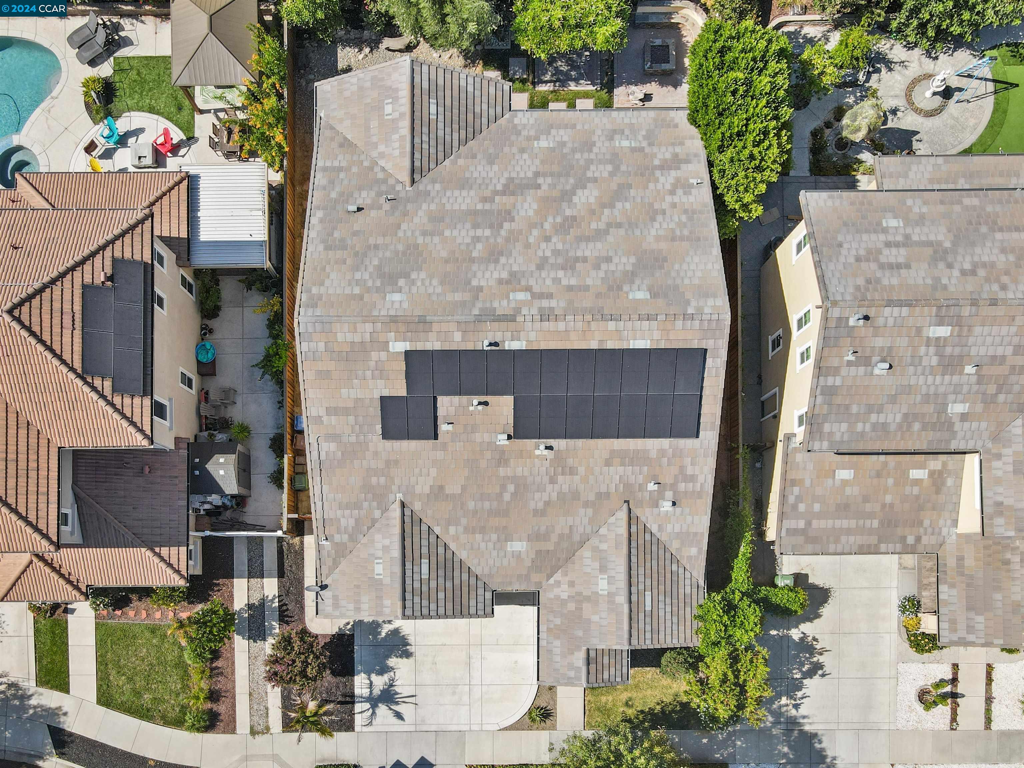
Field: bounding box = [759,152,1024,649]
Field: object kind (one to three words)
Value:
house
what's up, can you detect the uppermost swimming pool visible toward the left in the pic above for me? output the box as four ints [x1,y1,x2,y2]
[0,28,68,138]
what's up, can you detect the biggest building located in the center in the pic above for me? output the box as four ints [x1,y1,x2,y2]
[294,54,730,687]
